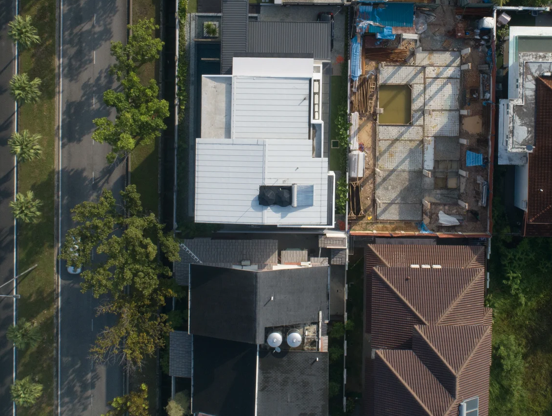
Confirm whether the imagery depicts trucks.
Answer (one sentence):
No, there isn't any truck down there.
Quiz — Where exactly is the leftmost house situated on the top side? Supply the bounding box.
[196,0,335,227]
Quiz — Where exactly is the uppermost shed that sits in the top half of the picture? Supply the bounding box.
[357,0,415,33]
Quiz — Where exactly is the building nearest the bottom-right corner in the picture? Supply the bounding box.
[364,239,494,416]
